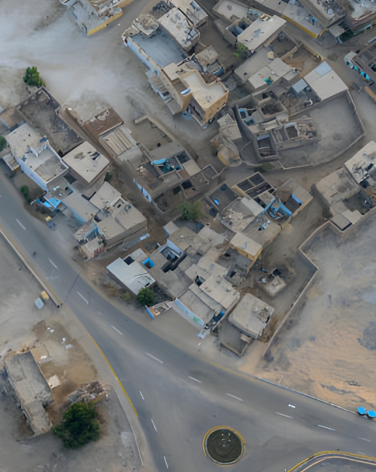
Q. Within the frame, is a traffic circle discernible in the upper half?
No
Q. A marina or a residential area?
residential area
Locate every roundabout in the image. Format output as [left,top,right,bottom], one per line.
[204,426,244,464]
